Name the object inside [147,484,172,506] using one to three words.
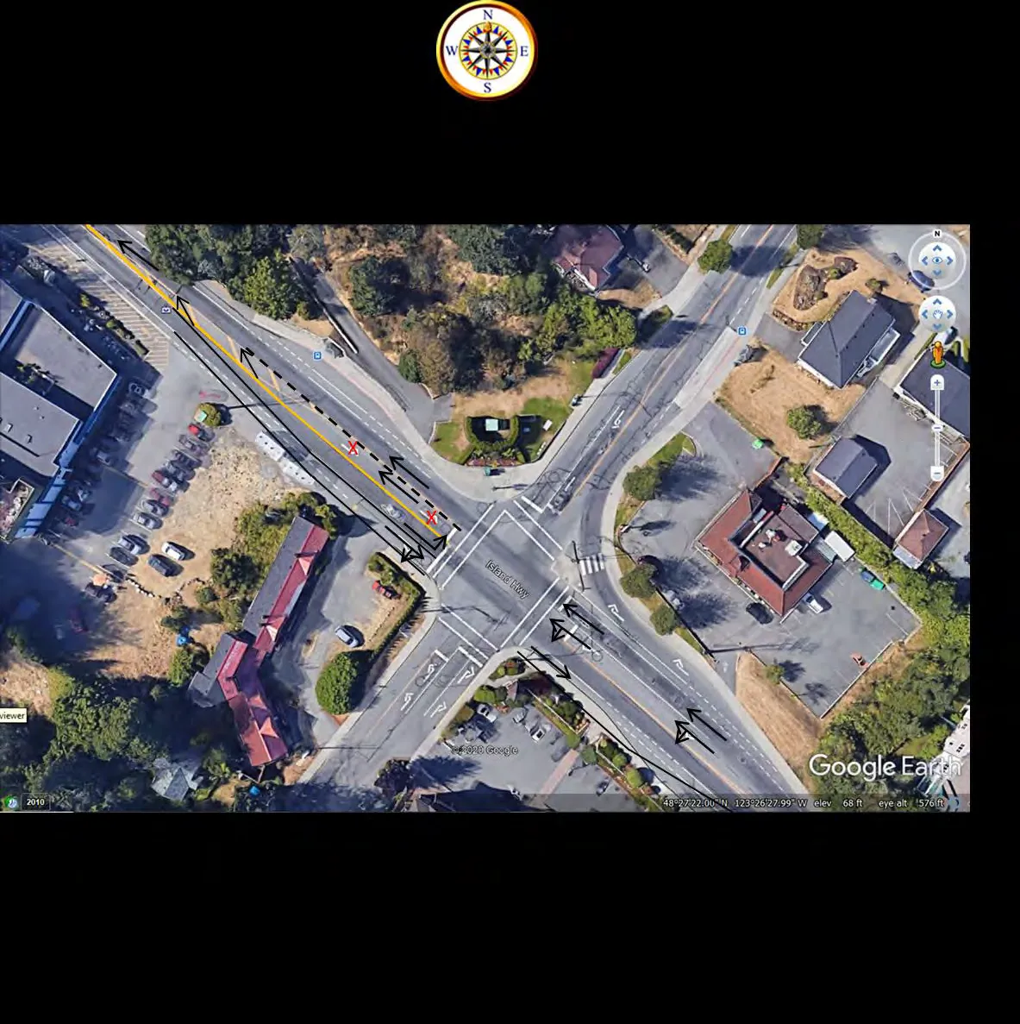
car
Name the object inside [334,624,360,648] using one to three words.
car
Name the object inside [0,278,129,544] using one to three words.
building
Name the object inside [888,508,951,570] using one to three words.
house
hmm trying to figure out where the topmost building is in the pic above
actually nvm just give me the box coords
[552,224,624,297]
